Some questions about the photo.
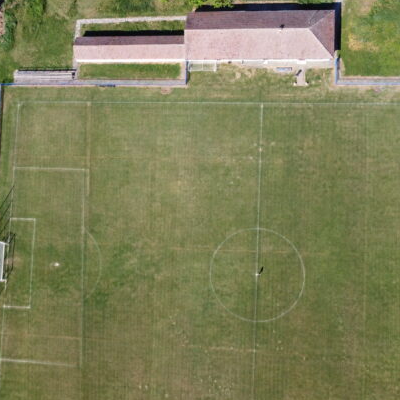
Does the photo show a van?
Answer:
No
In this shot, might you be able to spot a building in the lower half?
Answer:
No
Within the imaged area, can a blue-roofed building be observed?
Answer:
No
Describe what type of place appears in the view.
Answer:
sports ground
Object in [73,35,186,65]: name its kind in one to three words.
building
